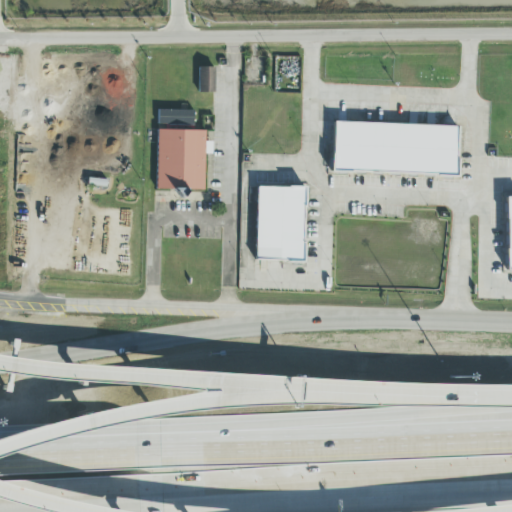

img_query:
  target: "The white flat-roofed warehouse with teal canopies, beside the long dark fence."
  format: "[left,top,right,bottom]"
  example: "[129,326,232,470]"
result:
[256,185,308,262]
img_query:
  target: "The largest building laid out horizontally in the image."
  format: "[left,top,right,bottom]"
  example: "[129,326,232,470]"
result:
[334,120,461,176]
